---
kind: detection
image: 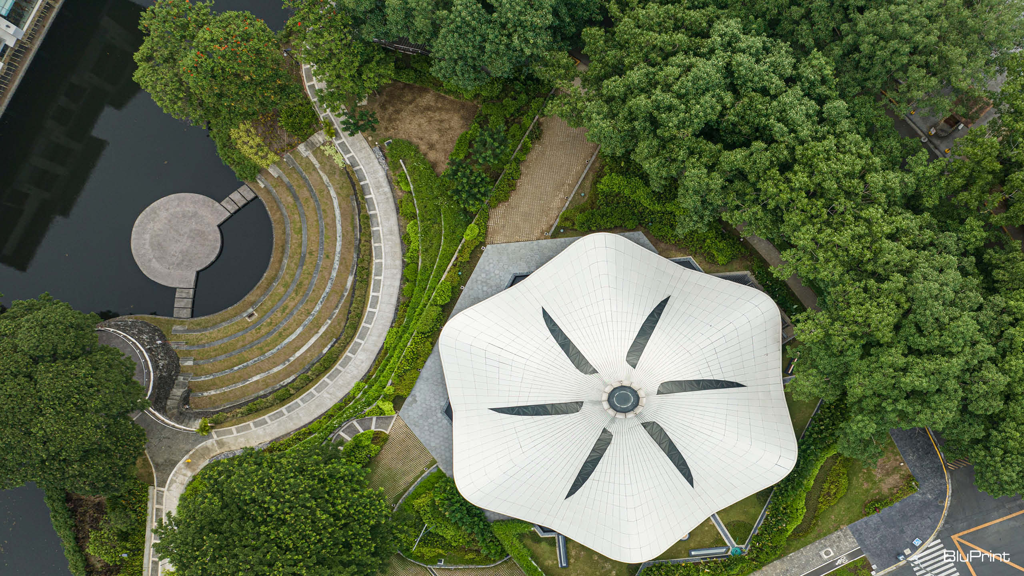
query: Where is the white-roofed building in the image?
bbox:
[438,231,799,564]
